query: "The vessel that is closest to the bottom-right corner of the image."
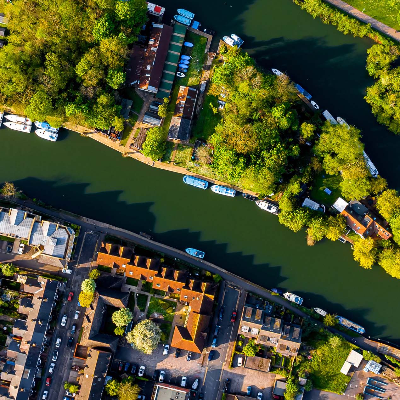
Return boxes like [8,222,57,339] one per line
[335,314,365,334]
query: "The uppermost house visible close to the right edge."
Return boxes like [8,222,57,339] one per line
[329,196,392,241]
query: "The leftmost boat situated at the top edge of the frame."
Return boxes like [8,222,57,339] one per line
[150,1,166,17]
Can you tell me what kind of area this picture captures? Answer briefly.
residential area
